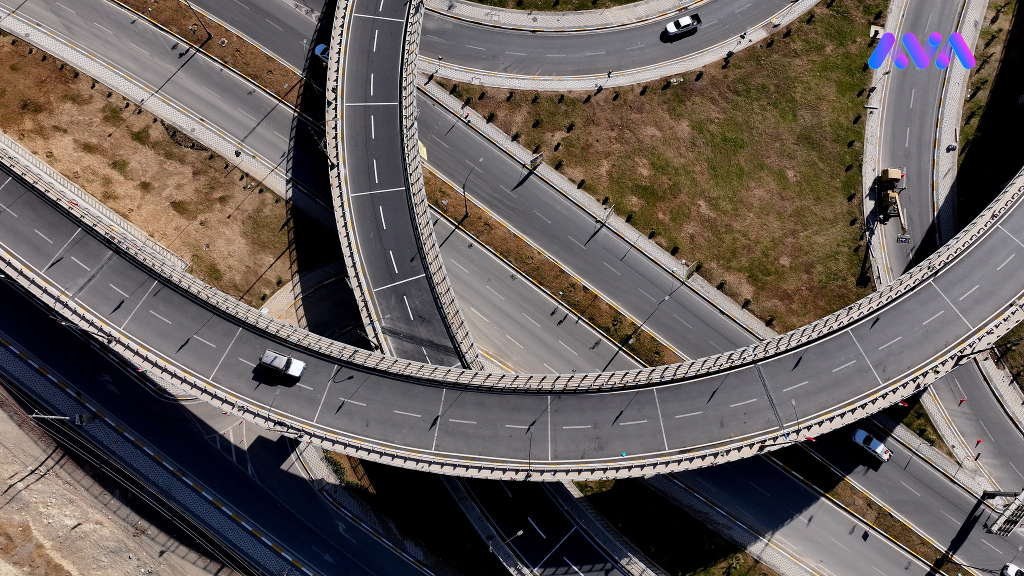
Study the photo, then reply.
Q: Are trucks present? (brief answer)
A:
Yes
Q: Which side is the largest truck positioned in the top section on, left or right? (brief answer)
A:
right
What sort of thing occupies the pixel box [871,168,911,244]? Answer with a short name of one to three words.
truck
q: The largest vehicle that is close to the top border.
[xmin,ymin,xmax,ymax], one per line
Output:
[661,14,702,38]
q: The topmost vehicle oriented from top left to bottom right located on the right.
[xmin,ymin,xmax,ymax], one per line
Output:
[847,426,896,465]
